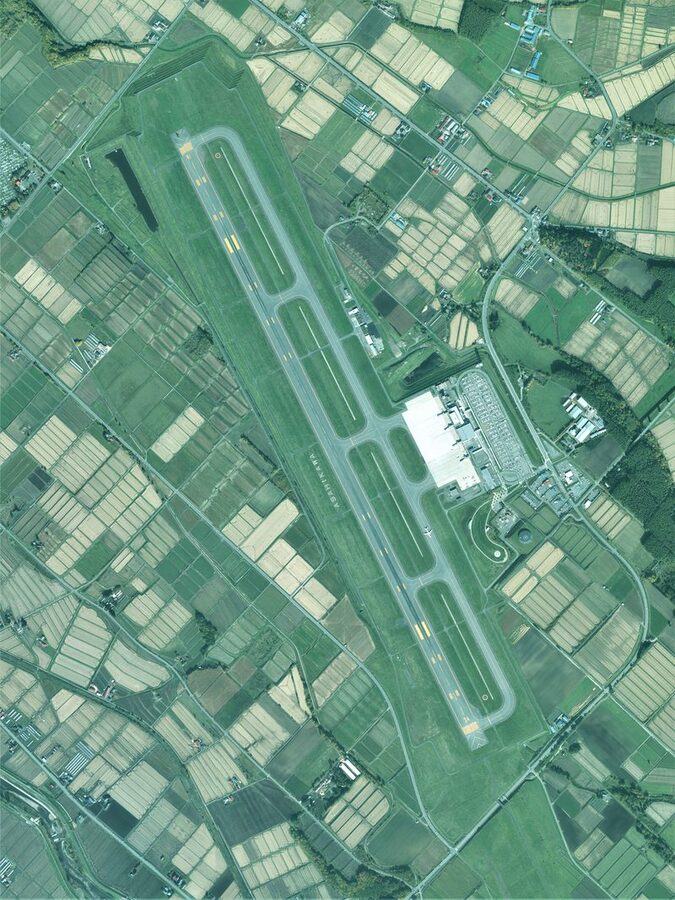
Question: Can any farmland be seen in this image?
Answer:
Yes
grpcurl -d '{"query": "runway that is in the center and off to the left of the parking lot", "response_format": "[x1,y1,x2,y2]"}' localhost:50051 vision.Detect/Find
[171,127,485,751]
